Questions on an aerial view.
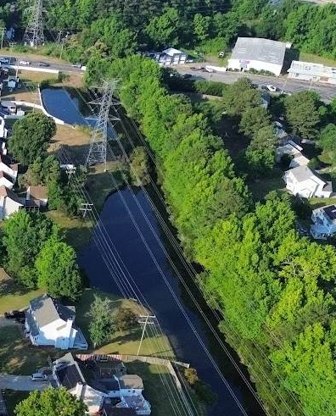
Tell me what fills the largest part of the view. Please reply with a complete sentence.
For the most part, this view shows trees.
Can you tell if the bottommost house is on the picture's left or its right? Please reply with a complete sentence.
The bottommost house sits on the left side.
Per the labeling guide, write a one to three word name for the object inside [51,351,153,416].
house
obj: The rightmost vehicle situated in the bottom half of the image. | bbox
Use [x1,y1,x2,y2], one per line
[27,369,55,382]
